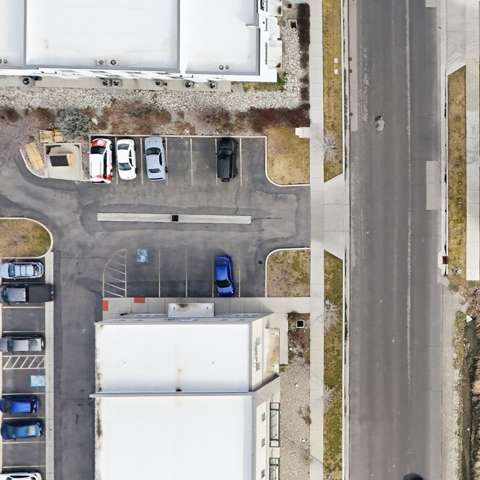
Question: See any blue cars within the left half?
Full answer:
Yes, looking within the left half, one can make out a blue car.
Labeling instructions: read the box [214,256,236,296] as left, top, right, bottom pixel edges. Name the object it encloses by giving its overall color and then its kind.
blue car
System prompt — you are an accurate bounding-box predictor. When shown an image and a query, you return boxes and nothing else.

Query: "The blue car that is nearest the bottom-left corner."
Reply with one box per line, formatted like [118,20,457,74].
[2,420,46,441]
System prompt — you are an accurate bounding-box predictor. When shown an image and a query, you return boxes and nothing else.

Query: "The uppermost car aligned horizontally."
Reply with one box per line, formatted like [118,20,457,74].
[0,261,46,280]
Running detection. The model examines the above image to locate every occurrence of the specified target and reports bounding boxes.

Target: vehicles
[215,140,238,182]
[88,138,114,183]
[143,136,167,181]
[2,420,46,441]
[0,334,46,354]
[115,138,138,180]
[0,261,46,280]
[0,283,54,305]
[0,471,43,480]
[214,256,236,296]
[1,394,41,414]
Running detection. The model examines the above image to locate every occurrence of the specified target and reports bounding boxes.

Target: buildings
[90,303,280,480]
[0,0,283,83]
